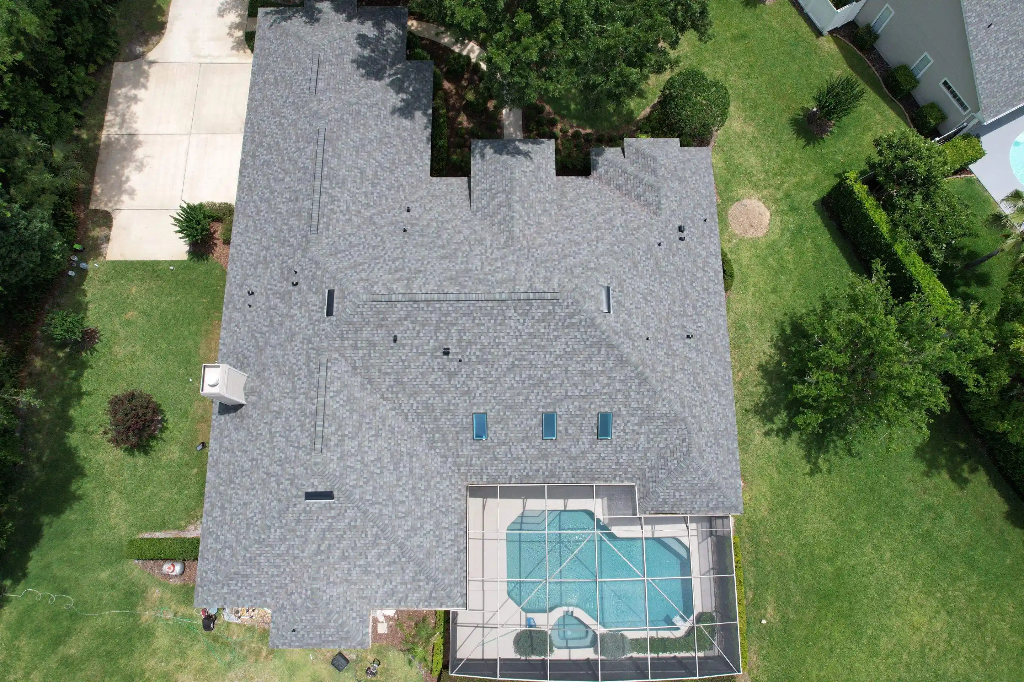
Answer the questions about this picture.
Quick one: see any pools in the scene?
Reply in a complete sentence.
Yes, there is a pool in the image.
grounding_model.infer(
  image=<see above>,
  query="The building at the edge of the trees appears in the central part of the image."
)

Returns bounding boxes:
[192,0,743,652]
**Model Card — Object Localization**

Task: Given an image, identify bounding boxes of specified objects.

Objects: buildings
[839,0,1024,134]
[192,0,743,652]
